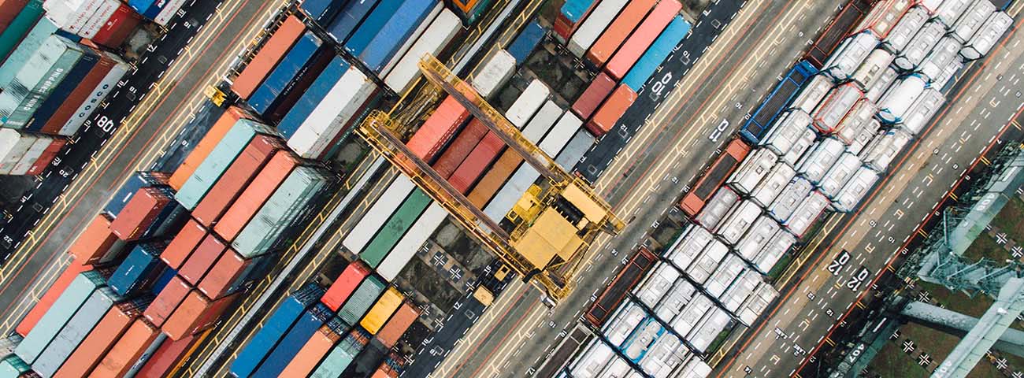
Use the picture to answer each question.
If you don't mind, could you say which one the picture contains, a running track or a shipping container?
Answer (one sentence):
There is a shipping container in the scene.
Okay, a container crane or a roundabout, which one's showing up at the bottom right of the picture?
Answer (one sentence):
It is a container crane that can be seen at the bottom right of the picture.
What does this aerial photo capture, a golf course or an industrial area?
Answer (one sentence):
It's an industrial area.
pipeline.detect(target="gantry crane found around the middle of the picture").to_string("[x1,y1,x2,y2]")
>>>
[353,48,624,301]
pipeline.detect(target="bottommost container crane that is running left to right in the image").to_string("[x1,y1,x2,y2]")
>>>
[805,278,1024,378]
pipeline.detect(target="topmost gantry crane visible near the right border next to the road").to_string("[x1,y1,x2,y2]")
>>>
[921,123,1024,284]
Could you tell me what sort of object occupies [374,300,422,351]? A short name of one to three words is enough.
shipping container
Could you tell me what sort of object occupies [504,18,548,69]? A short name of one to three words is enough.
shipping container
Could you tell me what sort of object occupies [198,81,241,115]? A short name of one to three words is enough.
work vehicle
